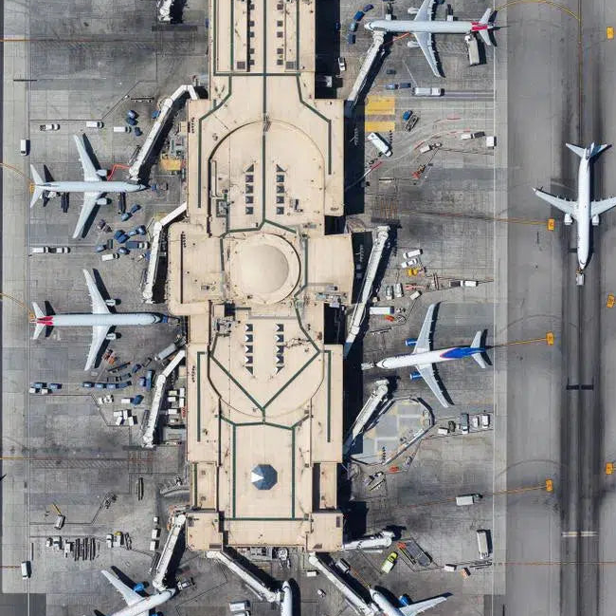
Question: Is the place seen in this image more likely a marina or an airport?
airport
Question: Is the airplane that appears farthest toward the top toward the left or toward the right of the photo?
right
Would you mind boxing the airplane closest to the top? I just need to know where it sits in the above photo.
[365,0,497,77]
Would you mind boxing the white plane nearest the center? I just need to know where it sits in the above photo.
[376,302,491,407]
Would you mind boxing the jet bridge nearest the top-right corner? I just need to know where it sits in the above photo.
[345,29,385,109]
